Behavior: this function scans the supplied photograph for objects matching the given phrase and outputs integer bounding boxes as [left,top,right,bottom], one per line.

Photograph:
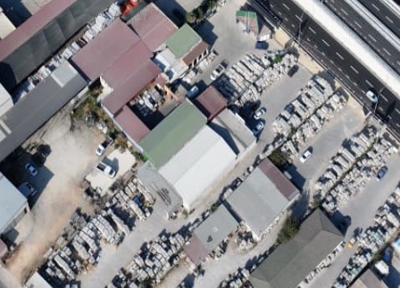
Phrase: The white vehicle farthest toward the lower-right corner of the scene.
[372,258,396,278]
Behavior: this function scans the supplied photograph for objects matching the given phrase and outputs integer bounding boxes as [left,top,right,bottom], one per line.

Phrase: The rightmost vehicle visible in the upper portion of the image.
[363,89,379,104]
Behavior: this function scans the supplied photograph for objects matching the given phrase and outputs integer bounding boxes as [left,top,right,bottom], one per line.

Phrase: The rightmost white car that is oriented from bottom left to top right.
[298,148,314,165]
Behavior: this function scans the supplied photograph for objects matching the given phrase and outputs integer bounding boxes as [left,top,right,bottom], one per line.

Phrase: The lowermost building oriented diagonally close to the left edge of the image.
[0,62,89,171]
